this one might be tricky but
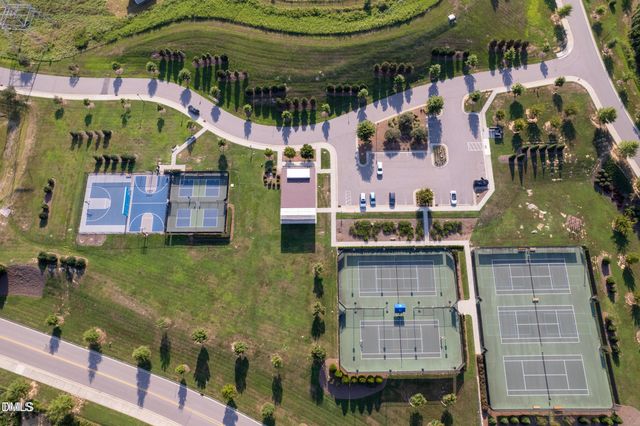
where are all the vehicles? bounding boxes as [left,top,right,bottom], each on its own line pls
[185,104,198,114]
[369,192,376,206]
[377,163,384,177]
[360,192,367,207]
[389,192,396,207]
[472,180,489,188]
[450,191,458,205]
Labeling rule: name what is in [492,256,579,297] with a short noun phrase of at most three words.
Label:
tennis court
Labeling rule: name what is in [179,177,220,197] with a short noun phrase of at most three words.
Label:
sports court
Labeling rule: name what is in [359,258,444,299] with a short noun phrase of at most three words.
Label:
tennis court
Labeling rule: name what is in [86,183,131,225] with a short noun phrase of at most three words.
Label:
basketball court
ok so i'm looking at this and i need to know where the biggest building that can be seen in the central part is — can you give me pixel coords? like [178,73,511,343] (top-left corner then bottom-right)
[280,166,316,224]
